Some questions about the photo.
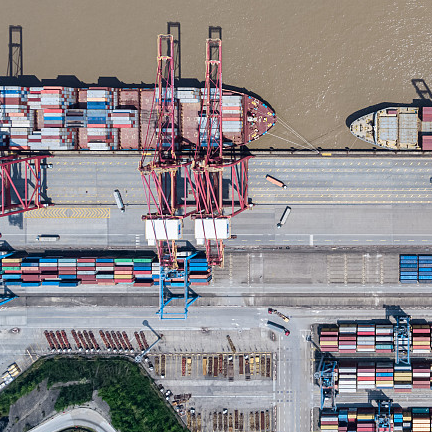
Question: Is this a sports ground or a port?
port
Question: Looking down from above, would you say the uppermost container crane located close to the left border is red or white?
red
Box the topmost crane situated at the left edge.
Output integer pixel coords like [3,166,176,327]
[0,156,58,237]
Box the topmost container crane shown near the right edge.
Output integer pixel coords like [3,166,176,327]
[392,307,412,362]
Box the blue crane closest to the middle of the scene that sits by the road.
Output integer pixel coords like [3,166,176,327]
[159,253,200,319]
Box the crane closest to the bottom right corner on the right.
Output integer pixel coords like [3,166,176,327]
[377,387,395,432]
